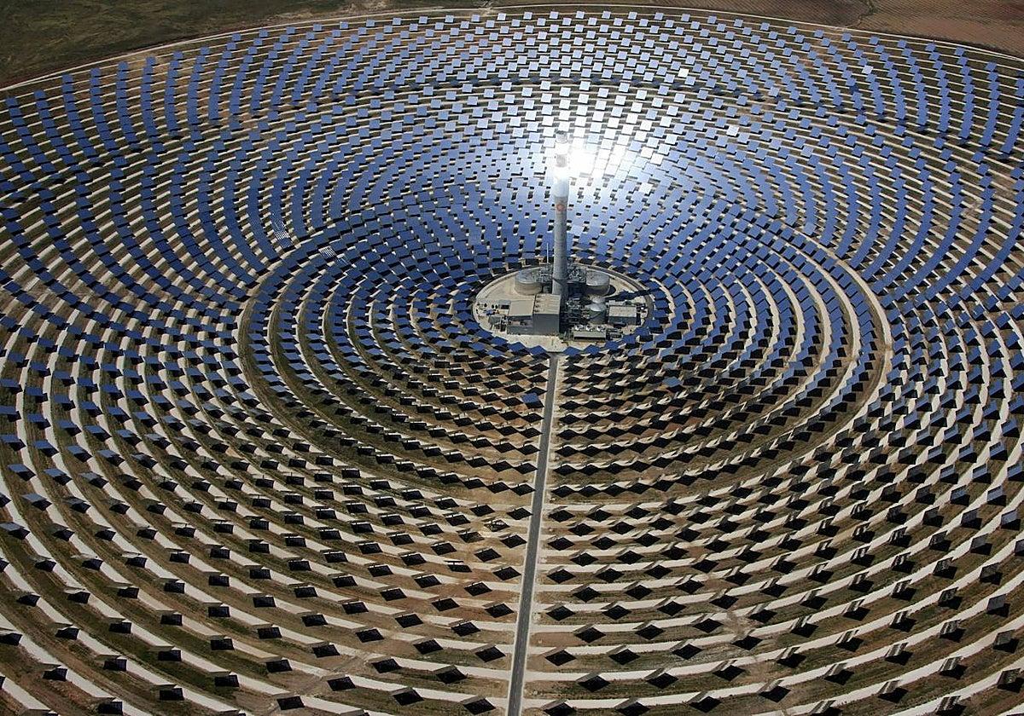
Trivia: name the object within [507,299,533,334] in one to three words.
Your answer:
building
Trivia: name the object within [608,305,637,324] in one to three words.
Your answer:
building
